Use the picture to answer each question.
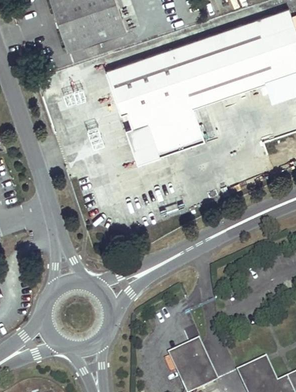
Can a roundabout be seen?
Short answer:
Yes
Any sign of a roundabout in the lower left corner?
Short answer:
Yes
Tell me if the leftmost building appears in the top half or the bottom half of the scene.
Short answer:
top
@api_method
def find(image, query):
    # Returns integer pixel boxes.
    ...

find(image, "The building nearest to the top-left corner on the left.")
[50,0,127,52]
